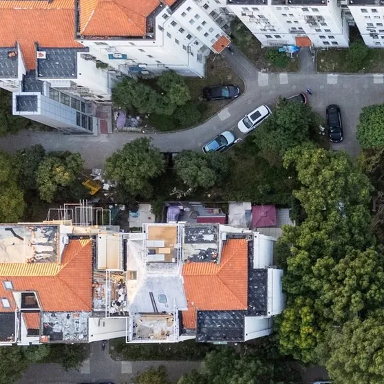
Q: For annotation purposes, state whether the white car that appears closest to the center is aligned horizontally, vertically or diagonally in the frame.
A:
diagonally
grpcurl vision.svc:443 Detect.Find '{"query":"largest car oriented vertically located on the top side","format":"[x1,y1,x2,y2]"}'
[326,104,343,142]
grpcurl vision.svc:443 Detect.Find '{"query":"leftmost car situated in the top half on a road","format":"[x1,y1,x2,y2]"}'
[204,130,234,153]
